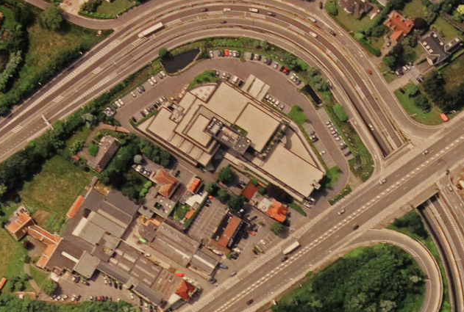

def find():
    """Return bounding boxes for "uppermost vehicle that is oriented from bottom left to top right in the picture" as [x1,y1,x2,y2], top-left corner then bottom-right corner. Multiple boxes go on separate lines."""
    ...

[138,20,165,40]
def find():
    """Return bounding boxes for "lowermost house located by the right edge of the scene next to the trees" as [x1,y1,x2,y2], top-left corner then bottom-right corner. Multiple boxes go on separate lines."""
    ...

[416,33,463,68]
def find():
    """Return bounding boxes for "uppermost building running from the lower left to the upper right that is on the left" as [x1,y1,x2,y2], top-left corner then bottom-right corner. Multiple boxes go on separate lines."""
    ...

[85,136,119,172]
